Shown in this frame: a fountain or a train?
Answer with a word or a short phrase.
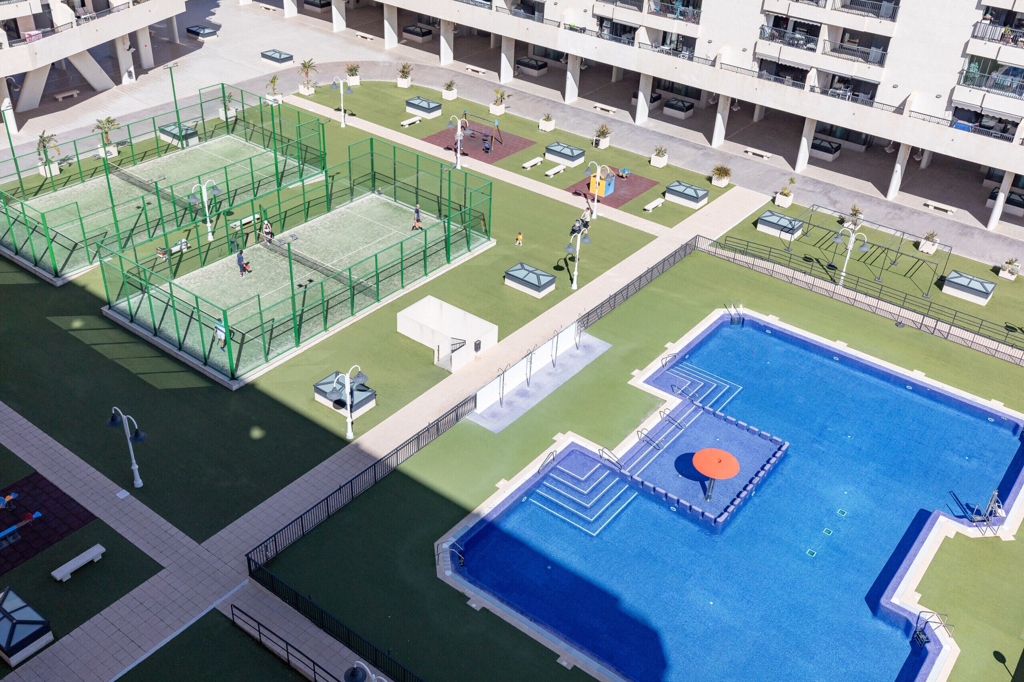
fountain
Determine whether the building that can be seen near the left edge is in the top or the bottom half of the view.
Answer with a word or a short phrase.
top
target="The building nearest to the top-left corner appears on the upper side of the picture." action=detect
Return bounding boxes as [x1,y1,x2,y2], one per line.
[0,0,186,89]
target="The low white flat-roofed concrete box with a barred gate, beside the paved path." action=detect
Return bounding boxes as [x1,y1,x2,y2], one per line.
[397,295,498,373]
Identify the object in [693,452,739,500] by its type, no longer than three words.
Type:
fountain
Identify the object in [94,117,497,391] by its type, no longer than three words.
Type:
sports court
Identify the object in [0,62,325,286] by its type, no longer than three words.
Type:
sports court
